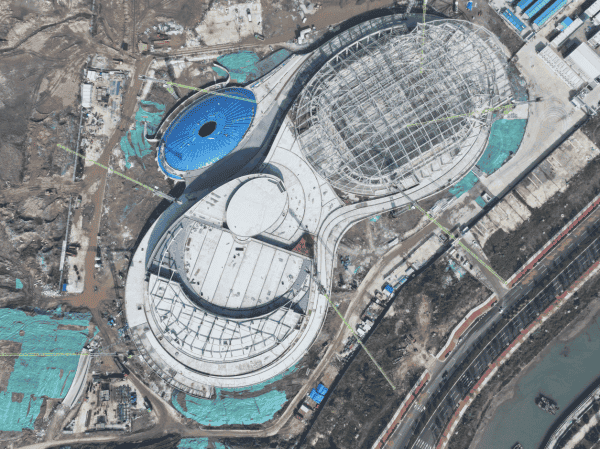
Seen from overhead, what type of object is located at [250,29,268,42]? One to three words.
vehicle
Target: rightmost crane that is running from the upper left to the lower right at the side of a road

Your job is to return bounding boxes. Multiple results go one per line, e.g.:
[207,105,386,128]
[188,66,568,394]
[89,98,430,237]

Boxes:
[391,183,507,285]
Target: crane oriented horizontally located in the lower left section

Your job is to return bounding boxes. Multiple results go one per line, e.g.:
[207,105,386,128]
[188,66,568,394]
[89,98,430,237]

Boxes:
[0,340,140,360]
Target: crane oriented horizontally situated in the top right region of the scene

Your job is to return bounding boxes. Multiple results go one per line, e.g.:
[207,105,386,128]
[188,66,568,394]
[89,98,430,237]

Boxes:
[407,96,539,128]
